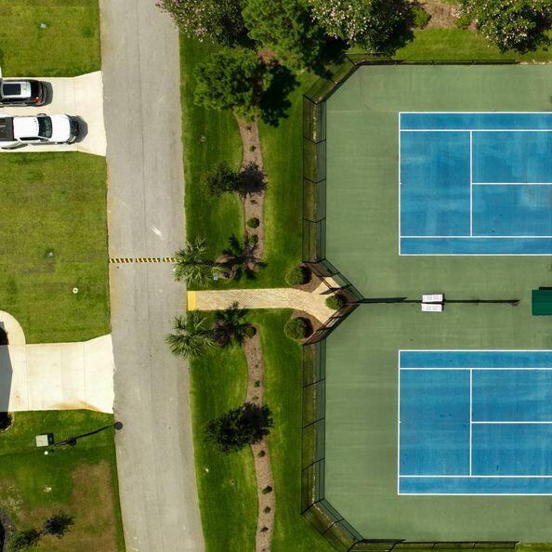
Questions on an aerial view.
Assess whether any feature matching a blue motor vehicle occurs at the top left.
No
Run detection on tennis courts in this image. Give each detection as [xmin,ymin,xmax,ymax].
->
[314,300,552,542]
[316,63,552,300]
